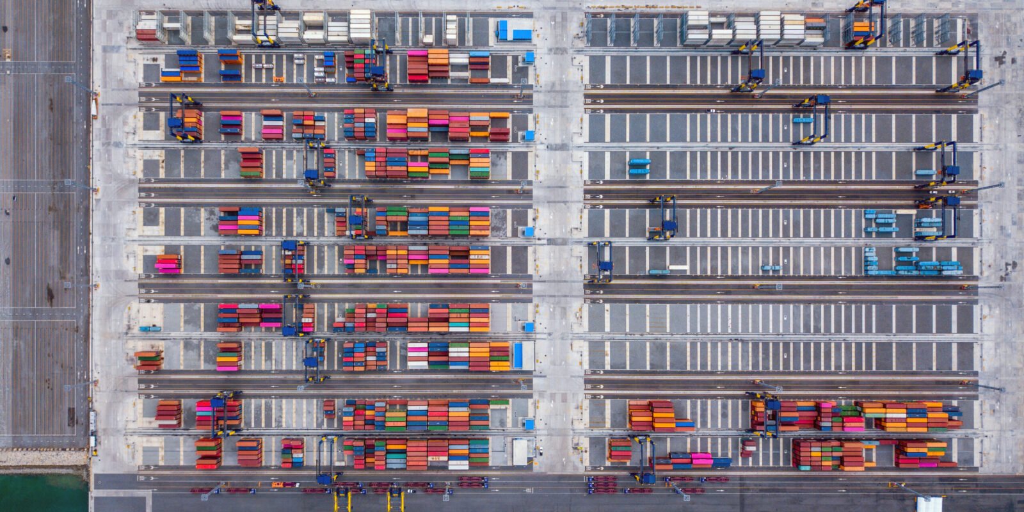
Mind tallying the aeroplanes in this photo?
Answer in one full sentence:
There are no aeroplanes in this view.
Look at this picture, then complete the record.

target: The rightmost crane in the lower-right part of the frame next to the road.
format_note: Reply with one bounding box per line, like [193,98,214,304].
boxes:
[746,393,782,441]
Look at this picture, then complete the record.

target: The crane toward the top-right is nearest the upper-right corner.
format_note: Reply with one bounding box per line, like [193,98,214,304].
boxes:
[936,40,983,92]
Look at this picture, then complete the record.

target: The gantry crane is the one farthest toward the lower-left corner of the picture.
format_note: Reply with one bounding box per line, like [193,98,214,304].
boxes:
[208,391,241,439]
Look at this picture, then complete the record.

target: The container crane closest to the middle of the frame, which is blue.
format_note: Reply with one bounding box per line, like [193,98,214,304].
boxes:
[587,240,614,283]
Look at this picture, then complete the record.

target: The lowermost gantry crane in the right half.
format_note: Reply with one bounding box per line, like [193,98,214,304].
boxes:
[627,437,656,487]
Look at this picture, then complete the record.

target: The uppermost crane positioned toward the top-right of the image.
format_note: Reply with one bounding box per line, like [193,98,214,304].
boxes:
[846,0,887,48]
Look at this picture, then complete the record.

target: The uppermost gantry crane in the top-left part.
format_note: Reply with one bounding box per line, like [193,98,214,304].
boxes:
[251,0,281,46]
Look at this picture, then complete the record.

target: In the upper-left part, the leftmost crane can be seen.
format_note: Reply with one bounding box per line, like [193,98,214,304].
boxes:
[168,93,204,142]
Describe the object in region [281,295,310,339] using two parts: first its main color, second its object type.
blue container crane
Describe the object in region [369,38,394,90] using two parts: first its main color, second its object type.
blue container crane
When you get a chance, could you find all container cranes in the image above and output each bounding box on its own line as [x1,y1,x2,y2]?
[914,196,960,241]
[647,196,678,240]
[627,437,656,487]
[168,93,204,142]
[208,391,241,439]
[316,436,343,486]
[369,38,394,90]
[587,240,614,283]
[303,340,331,385]
[792,95,831,144]
[251,0,281,46]
[305,139,333,186]
[348,195,374,239]
[281,239,311,282]
[914,141,960,188]
[936,40,983,92]
[746,393,782,441]
[281,295,310,339]
[846,0,887,48]
[731,39,766,91]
